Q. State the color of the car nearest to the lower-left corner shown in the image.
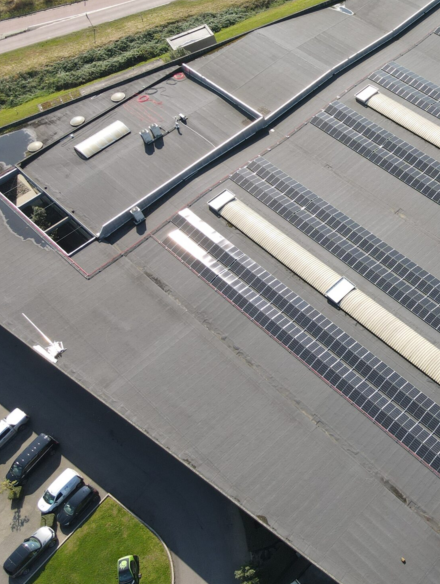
black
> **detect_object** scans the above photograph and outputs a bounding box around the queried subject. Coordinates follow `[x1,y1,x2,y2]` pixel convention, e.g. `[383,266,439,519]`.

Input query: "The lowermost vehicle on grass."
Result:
[116,548,142,584]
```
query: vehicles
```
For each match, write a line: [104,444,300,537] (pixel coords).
[116,548,142,584]
[0,409,32,447]
[3,434,63,486]
[56,486,103,530]
[0,530,58,582]
[39,467,89,512]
